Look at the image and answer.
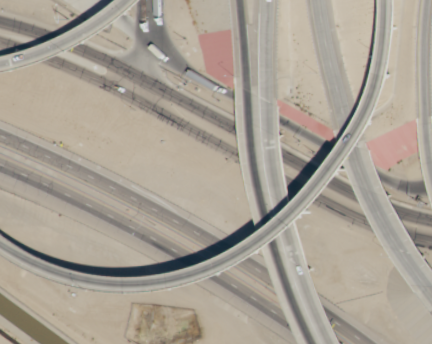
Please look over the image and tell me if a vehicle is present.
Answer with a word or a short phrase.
Yes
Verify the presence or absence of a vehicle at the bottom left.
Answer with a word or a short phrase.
No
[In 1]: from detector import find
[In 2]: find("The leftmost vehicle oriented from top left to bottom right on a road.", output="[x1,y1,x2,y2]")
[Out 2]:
[150,44,170,60]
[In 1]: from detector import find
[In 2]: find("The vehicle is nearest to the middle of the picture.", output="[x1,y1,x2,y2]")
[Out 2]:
[185,68,226,94]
